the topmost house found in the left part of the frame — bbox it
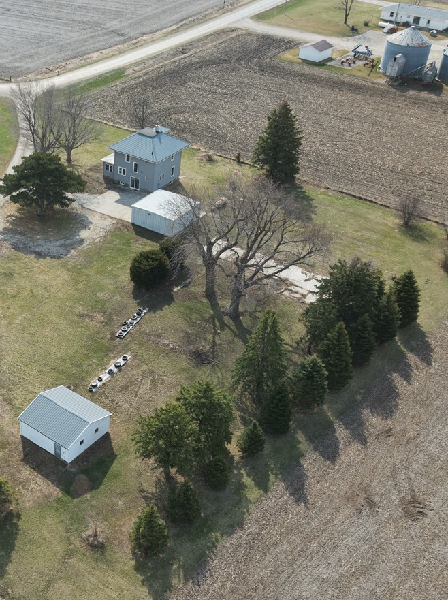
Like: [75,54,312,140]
[101,128,188,193]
